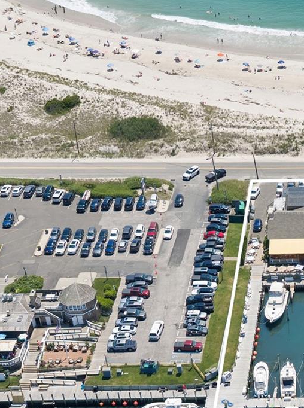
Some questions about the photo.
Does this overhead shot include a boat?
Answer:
Yes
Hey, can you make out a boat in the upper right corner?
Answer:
No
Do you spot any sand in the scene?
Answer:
Yes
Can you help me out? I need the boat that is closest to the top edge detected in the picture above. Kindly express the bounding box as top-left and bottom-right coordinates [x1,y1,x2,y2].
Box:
[266,286,288,324]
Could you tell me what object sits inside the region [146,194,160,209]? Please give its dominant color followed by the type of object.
white vehicle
